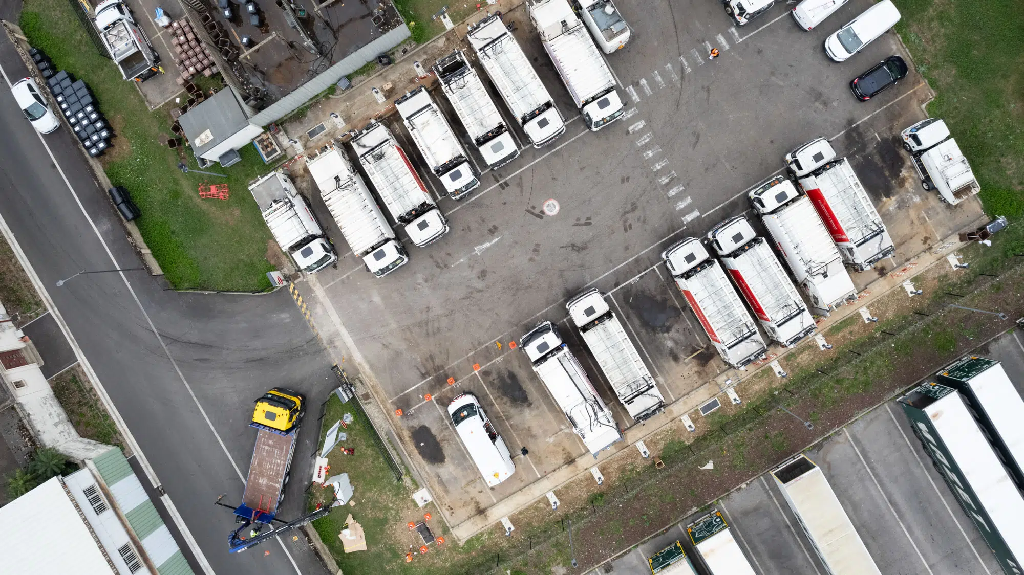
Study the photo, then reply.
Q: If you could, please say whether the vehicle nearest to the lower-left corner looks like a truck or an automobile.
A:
truck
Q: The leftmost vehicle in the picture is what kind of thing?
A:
car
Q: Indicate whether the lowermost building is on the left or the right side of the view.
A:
left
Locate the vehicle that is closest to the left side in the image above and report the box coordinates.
[8,76,63,138]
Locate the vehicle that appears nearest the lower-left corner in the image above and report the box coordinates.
[212,387,342,554]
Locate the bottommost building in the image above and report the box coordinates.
[0,447,195,575]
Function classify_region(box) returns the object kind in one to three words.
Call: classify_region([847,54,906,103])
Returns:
car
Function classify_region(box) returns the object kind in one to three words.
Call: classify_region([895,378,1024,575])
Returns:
trailer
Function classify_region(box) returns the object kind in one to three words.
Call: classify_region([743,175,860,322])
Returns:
truck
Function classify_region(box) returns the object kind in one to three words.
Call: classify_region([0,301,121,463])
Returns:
house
